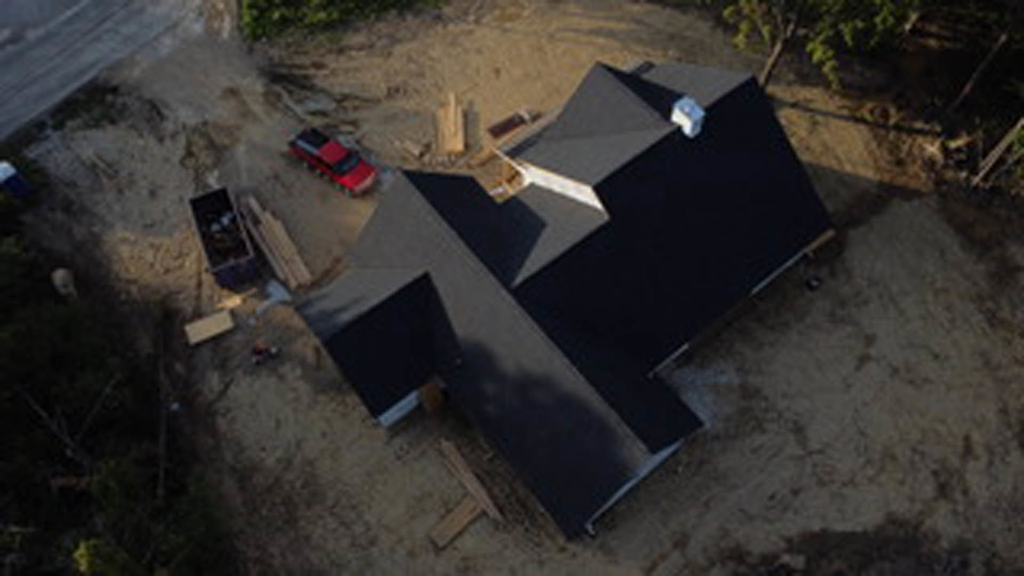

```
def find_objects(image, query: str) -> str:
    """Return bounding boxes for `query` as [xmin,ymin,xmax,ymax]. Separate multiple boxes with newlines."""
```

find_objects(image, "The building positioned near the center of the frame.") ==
[295,62,840,540]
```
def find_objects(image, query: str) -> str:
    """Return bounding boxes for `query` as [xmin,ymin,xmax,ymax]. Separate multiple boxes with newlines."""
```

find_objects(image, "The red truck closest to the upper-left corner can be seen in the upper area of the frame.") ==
[286,124,380,199]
